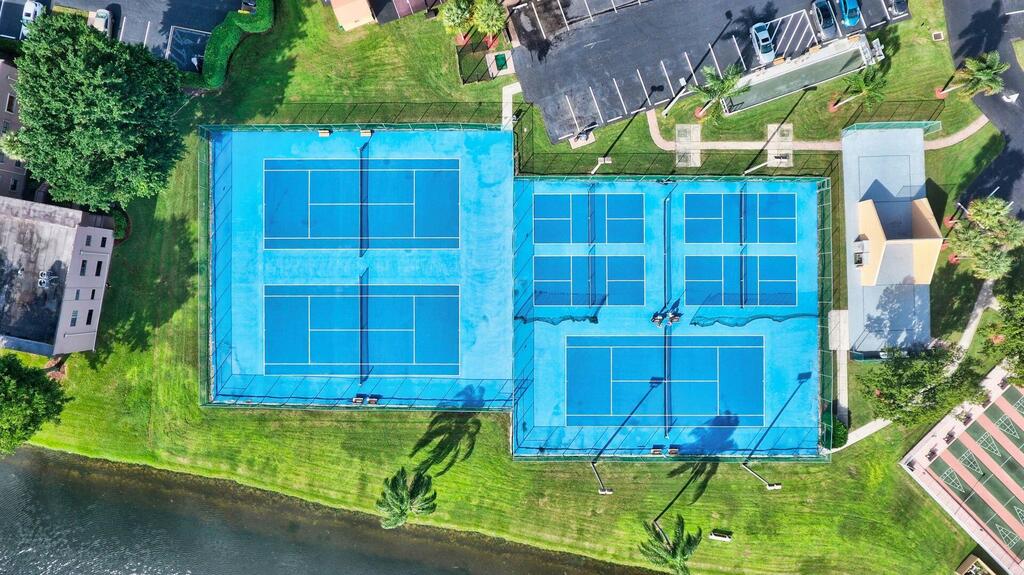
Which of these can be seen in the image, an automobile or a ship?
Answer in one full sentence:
Visible in the photo is an automobile.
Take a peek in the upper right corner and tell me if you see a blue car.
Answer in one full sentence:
Yes, you'll find a blue car in the upper right corner.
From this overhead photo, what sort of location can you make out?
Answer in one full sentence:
The area seen from above is a sports ground.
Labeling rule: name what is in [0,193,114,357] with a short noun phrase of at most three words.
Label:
building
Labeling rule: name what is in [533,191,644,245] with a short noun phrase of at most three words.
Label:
sports court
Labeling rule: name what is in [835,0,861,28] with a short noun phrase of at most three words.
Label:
car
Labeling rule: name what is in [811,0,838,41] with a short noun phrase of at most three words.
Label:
car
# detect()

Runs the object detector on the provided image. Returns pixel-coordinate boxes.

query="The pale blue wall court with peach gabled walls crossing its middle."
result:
[842,125,951,351]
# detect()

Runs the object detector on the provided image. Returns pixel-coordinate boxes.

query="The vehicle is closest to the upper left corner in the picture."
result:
[18,0,45,38]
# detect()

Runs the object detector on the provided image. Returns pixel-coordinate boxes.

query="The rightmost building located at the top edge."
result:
[330,0,375,31]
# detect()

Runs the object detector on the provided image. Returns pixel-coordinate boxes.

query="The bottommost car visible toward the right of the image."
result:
[748,23,774,66]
